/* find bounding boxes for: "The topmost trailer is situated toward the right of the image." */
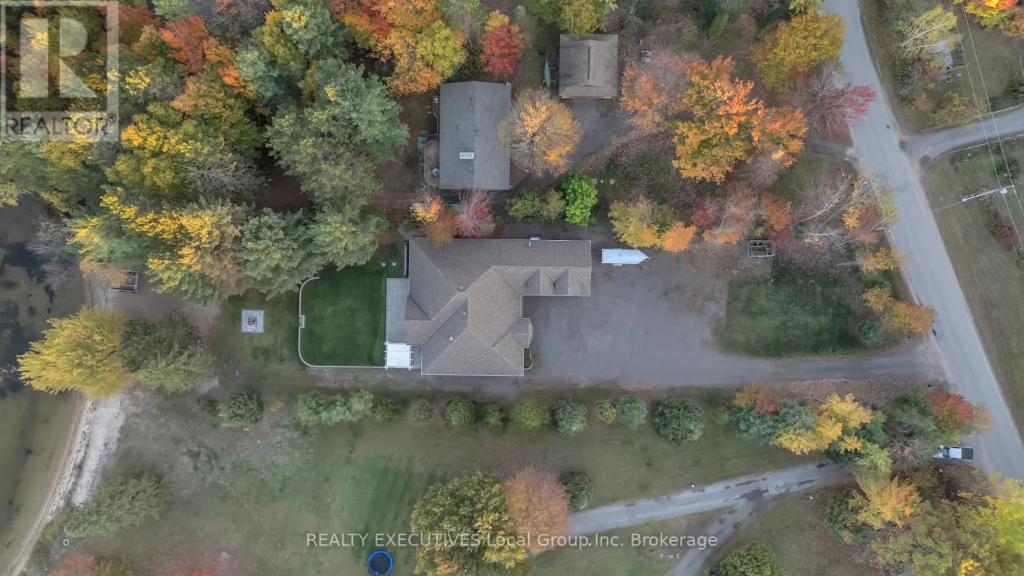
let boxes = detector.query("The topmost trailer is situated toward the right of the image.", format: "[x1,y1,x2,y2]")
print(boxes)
[600,248,652,265]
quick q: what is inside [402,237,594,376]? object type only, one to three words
house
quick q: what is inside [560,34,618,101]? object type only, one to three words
building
